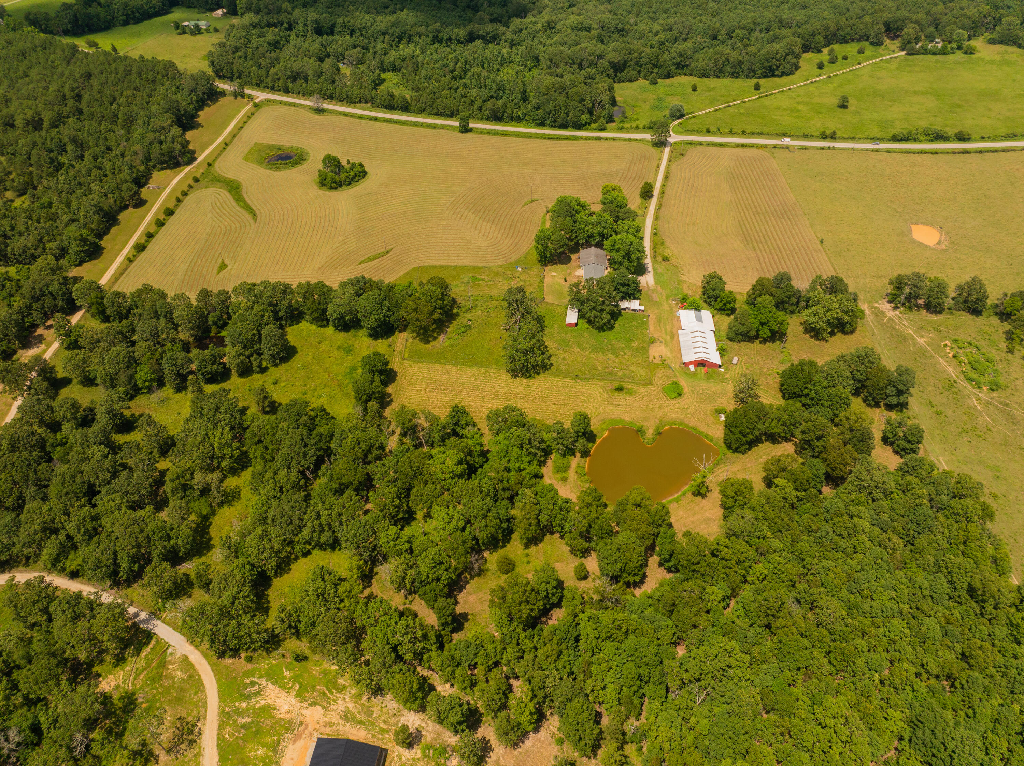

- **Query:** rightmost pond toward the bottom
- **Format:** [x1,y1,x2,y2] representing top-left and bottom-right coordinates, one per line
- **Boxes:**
[586,427,720,509]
